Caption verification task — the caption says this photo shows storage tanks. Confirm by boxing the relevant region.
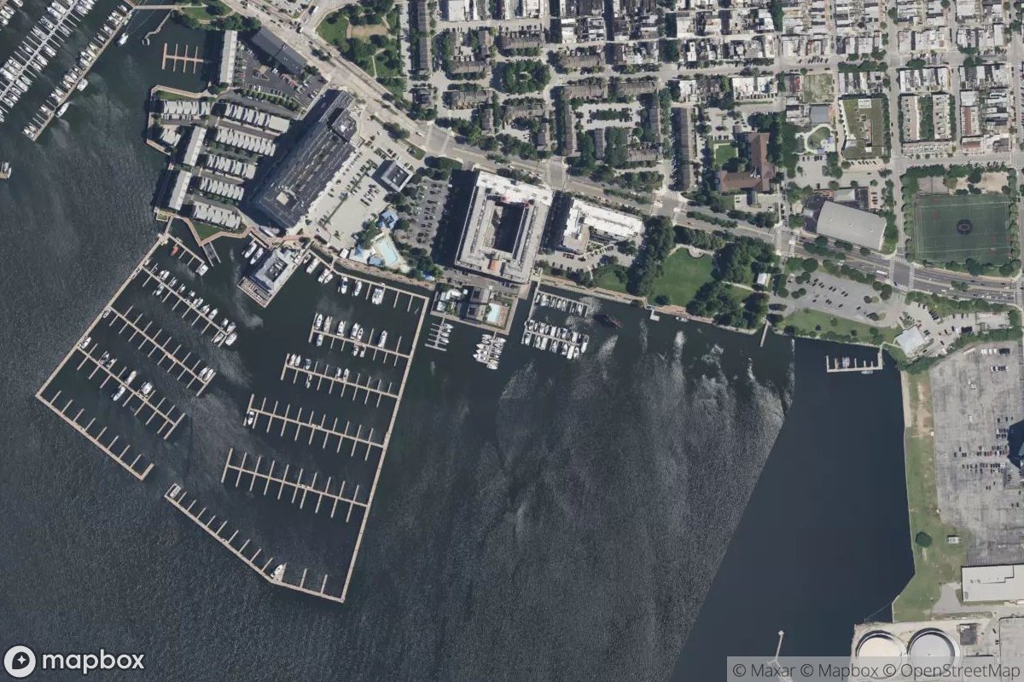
[907,632,956,680]
[858,633,905,679]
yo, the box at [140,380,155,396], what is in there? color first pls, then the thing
white boat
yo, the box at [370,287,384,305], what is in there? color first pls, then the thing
white boat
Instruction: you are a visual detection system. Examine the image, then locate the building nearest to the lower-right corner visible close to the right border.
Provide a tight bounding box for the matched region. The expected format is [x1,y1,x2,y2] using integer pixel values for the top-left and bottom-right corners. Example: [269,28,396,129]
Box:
[960,625,976,646]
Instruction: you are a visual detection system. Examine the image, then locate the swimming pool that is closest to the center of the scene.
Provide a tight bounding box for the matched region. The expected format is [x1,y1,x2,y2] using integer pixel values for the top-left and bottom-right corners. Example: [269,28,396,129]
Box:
[486,302,500,324]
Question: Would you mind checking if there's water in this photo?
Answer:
Yes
